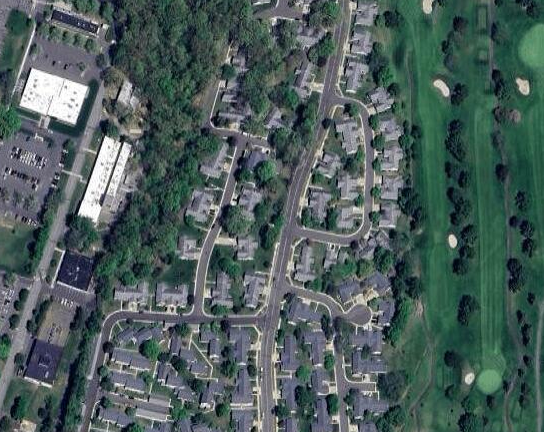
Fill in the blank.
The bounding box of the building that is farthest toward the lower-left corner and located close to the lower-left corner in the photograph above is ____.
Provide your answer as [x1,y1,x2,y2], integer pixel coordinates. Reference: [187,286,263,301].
[24,339,63,380]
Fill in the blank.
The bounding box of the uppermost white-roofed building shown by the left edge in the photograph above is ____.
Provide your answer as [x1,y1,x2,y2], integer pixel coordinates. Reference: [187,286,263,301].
[20,68,89,127]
